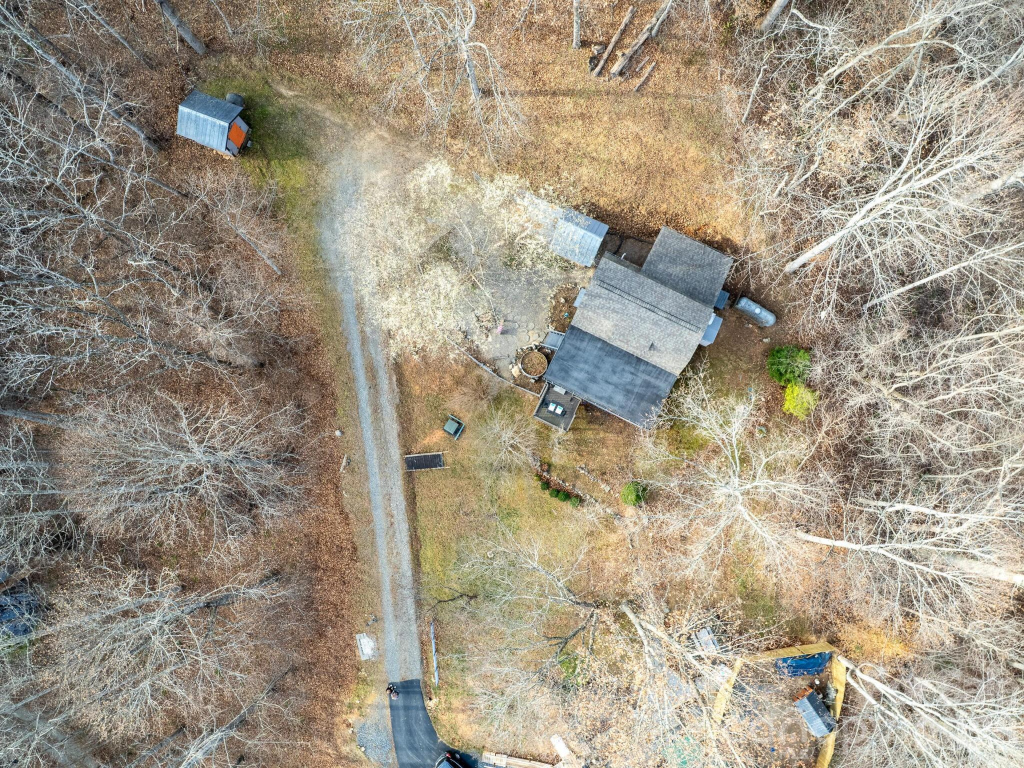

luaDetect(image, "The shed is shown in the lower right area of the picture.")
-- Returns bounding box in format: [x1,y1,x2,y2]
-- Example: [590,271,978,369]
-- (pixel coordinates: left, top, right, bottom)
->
[784,678,837,737]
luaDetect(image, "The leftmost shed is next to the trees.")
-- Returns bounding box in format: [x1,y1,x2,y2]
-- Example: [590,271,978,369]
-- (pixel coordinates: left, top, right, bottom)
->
[177,90,255,159]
